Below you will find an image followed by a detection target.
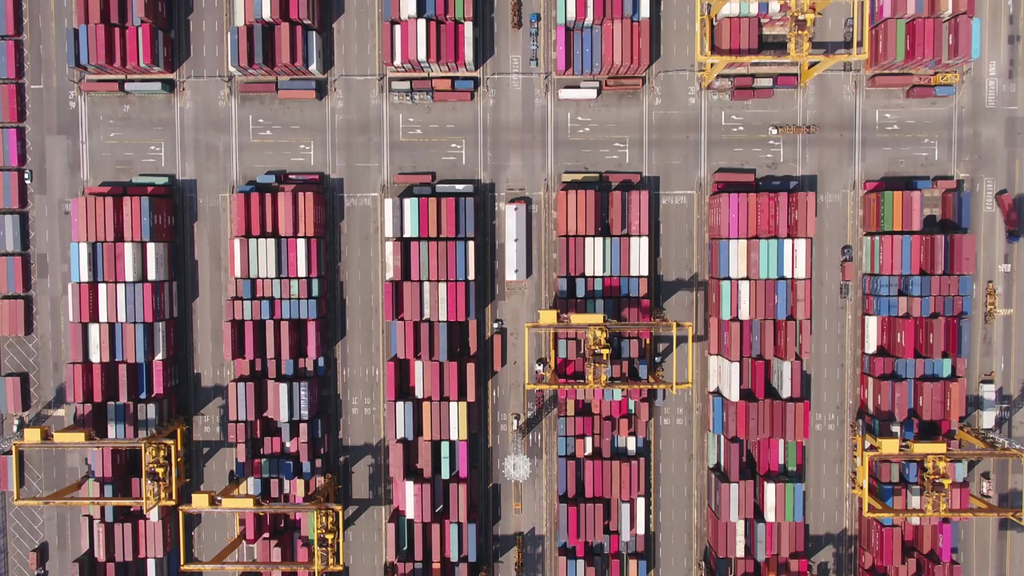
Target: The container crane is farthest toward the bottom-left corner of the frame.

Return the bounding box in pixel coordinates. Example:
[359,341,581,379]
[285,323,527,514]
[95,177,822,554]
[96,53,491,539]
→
[10,408,193,510]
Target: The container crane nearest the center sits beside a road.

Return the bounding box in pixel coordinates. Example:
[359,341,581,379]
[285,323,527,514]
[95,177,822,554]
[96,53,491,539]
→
[525,304,694,389]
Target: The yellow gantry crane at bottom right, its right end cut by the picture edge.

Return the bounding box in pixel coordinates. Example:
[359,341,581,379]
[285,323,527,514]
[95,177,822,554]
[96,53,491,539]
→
[847,422,1024,521]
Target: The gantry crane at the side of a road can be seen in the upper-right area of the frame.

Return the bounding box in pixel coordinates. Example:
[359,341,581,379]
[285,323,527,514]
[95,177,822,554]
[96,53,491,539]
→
[698,0,869,89]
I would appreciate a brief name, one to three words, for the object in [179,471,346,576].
container crane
